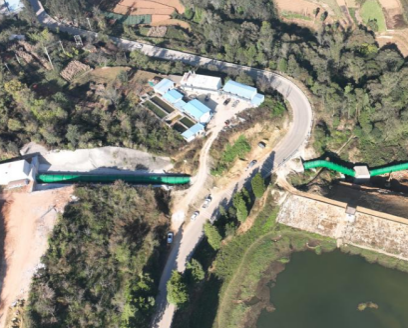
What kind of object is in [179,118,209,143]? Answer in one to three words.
house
